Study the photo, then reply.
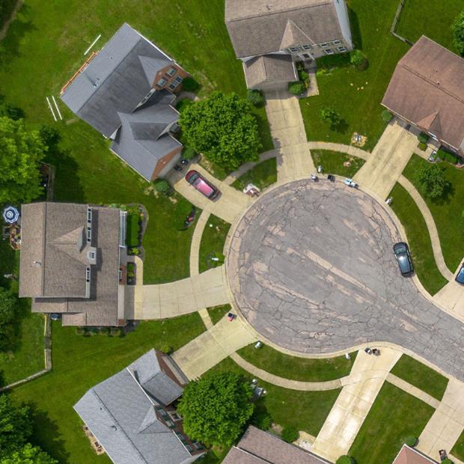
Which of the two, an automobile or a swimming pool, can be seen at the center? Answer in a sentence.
Visible at the center is an automobile.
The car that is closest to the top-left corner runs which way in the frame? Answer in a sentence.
In this picture, the car that is closest to the top-left corner is oriented on a diagonal.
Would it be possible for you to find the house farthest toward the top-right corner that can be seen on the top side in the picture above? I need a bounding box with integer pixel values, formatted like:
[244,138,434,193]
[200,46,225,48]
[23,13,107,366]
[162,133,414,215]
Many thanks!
[381,35,464,154]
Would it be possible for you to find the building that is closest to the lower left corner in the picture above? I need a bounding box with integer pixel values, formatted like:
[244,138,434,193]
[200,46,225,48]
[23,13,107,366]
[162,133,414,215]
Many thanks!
[73,348,205,464]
